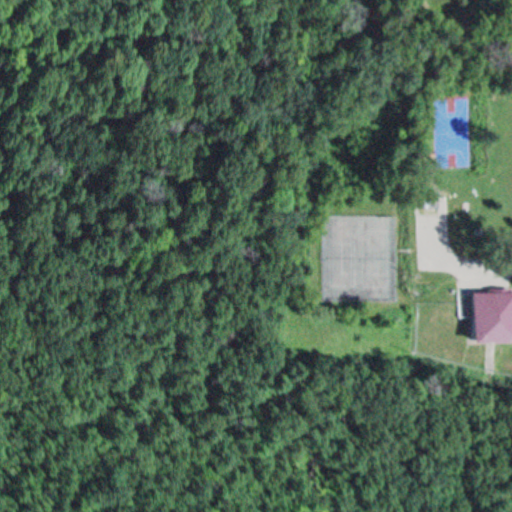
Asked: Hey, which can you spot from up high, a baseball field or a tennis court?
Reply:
tennis court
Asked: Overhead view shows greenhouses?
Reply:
No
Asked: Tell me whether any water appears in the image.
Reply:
No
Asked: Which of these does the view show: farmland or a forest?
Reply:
forest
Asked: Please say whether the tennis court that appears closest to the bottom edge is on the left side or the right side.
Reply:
right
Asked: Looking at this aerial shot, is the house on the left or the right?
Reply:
right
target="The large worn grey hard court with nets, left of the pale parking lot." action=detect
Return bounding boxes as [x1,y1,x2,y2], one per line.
[322,216,397,303]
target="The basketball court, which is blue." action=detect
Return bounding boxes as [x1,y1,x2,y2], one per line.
[434,98,470,168]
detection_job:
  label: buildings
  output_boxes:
[474,288,512,342]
